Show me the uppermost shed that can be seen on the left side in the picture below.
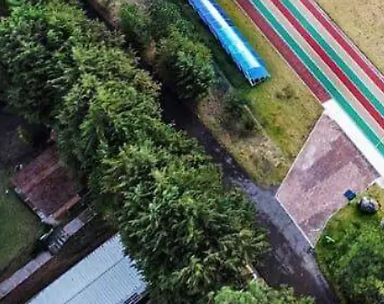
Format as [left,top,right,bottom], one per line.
[8,153,86,235]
